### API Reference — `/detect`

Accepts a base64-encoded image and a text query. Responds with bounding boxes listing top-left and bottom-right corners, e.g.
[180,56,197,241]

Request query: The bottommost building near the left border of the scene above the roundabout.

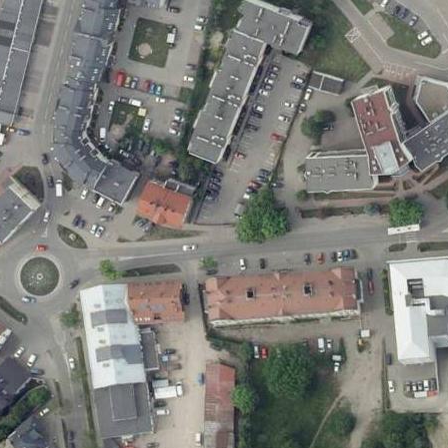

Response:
[0,187,38,247]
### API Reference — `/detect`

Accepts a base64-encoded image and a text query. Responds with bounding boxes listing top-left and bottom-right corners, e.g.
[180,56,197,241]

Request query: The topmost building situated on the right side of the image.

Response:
[237,0,317,60]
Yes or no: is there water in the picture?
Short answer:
No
